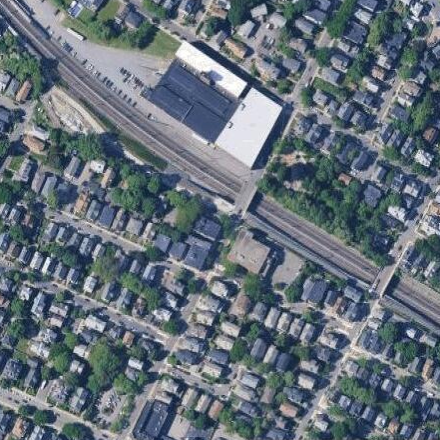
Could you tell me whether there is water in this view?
No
